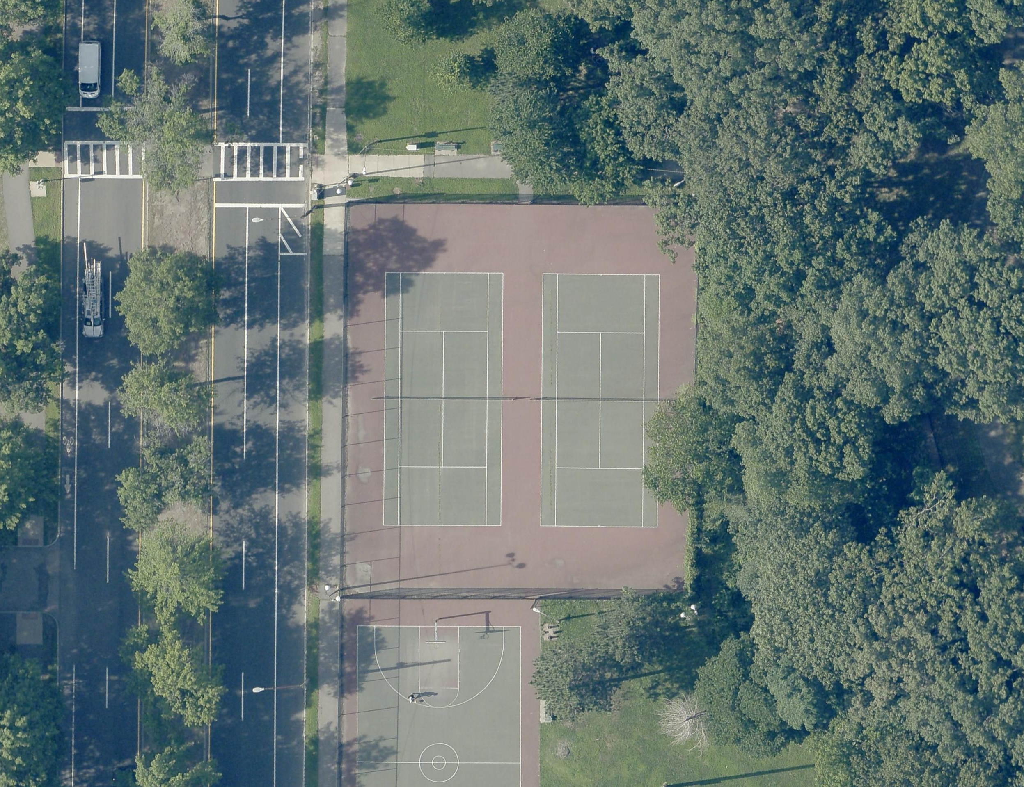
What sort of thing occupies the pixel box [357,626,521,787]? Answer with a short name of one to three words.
basketball court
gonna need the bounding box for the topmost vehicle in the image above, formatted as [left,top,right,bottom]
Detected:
[78,40,102,98]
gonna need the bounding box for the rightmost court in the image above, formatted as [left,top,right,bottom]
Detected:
[540,262,660,527]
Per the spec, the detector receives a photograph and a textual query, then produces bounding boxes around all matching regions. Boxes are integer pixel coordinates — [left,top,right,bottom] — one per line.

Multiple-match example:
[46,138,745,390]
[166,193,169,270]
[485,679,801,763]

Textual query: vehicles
[81,278,105,338]
[78,40,102,98]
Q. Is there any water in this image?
No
